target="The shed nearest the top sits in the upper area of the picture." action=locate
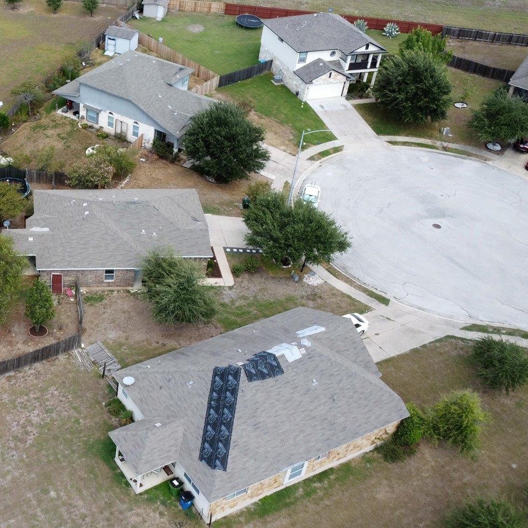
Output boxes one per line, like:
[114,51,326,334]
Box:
[143,0,169,21]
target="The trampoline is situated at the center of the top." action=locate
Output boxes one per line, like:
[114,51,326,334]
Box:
[236,16,262,32]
